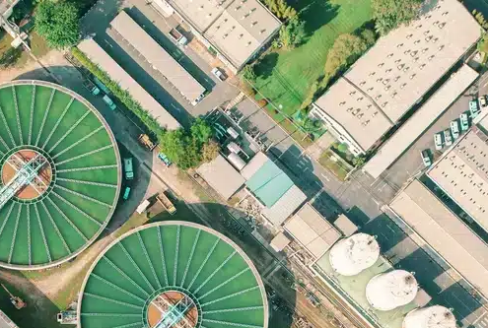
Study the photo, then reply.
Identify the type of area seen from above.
industrial area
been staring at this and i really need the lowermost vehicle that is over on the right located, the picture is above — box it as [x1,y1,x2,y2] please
[419,147,431,168]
